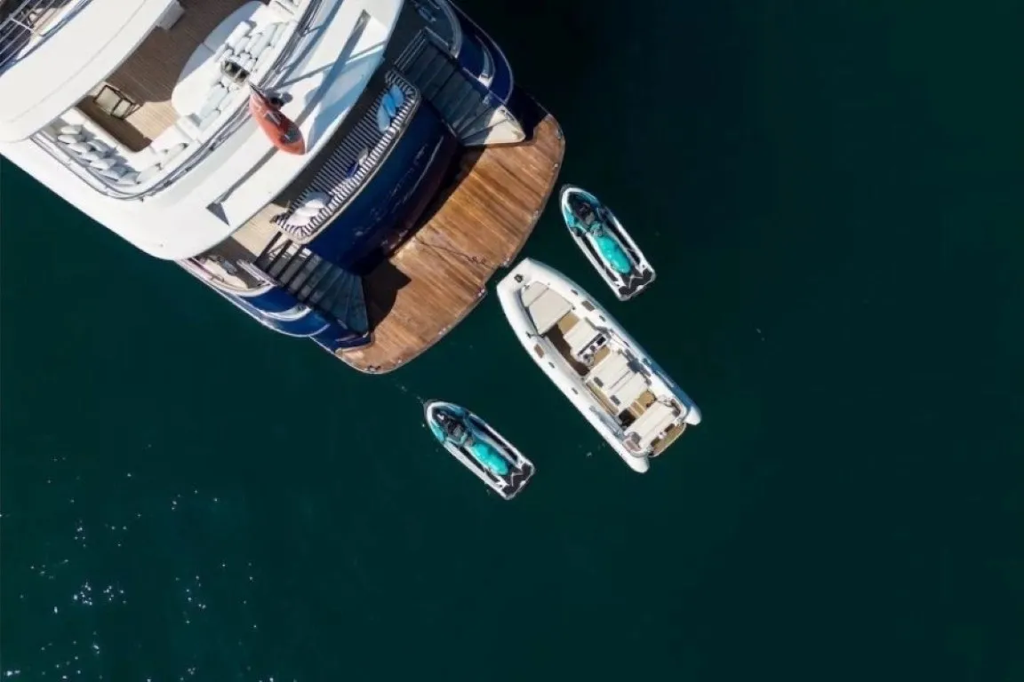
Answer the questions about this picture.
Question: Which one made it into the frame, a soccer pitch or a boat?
boat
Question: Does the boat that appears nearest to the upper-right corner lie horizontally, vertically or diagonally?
diagonally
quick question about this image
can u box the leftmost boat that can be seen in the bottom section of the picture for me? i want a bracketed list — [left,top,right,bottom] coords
[424,401,534,501]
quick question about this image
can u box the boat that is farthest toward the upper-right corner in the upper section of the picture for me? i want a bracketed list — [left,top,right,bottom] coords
[562,185,655,300]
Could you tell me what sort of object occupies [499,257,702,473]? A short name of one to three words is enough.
boat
